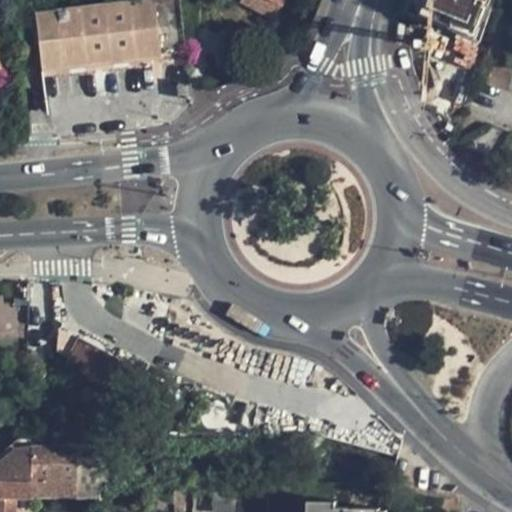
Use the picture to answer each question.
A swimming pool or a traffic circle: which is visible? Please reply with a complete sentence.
Visible in the photo is a traffic circle.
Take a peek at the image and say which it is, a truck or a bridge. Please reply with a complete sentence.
There is a truck in the scene.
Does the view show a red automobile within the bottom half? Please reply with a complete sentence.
Yes, I can see a red automobile within the bottom half.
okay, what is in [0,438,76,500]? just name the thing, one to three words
house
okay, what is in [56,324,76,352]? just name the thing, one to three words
shed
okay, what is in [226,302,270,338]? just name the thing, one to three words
truck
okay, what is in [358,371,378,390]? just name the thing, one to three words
car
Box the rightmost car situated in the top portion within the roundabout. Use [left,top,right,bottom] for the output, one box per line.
[388,182,408,200]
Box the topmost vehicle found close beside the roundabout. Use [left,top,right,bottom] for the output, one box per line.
[306,40,328,72]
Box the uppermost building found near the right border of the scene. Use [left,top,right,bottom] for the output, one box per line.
[430,0,492,38]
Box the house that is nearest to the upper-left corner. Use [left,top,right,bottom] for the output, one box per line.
[35,0,162,74]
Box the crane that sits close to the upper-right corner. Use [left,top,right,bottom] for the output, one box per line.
[419,0,448,104]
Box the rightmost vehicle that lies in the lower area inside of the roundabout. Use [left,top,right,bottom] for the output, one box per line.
[288,314,310,333]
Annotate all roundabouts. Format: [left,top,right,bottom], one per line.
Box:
[170,83,426,364]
